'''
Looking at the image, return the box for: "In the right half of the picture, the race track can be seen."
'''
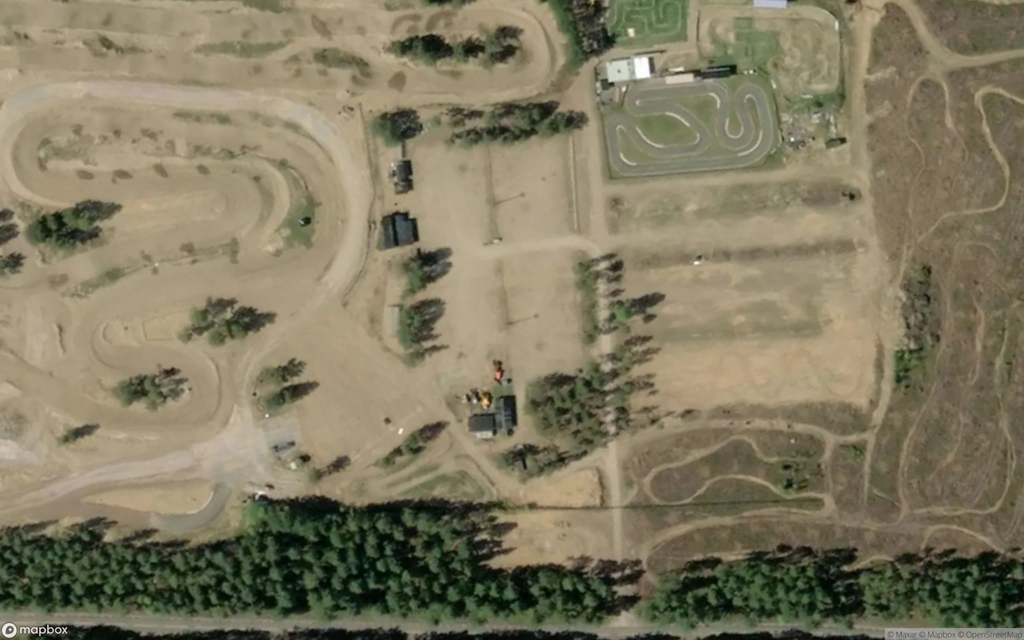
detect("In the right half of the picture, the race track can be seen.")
[605,82,772,175]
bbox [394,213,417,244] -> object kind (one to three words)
shed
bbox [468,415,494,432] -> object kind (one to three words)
building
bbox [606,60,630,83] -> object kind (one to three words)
building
